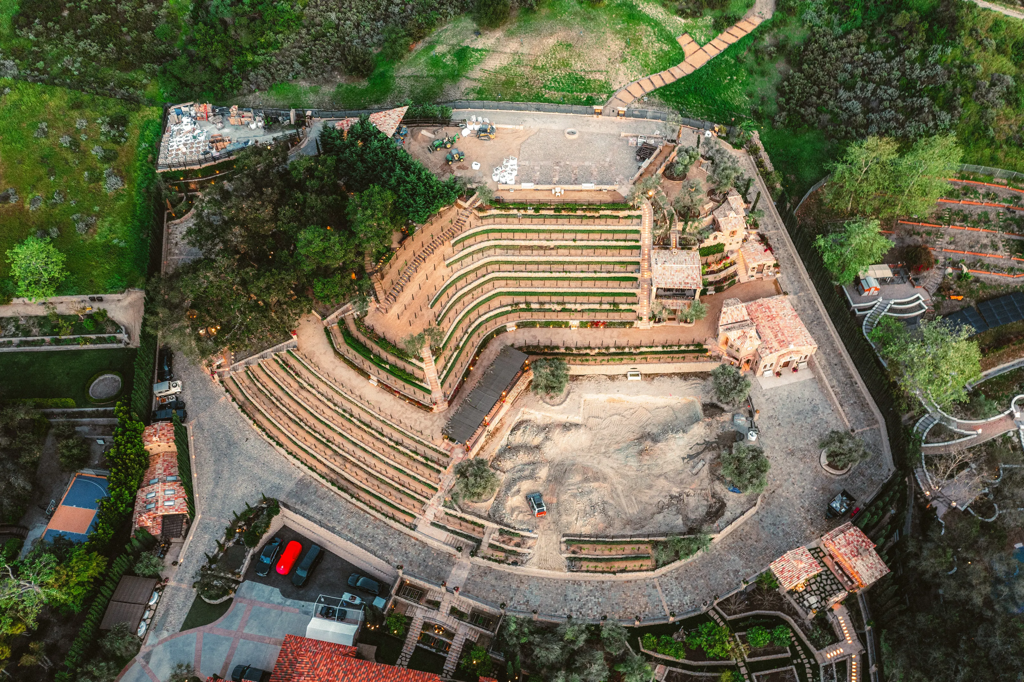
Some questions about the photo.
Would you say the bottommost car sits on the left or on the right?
left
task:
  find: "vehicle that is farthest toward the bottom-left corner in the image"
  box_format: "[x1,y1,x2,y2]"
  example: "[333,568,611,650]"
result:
[225,661,272,682]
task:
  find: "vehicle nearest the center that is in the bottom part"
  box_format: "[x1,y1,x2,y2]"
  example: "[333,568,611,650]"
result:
[526,490,548,518]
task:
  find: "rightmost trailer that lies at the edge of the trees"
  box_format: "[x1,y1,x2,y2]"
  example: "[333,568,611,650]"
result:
[827,489,863,521]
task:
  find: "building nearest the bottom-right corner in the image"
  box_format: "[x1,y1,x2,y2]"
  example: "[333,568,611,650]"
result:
[812,520,894,598]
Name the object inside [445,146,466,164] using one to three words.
vehicle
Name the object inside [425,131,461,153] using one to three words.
work vehicle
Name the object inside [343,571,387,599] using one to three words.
car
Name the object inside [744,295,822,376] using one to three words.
building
